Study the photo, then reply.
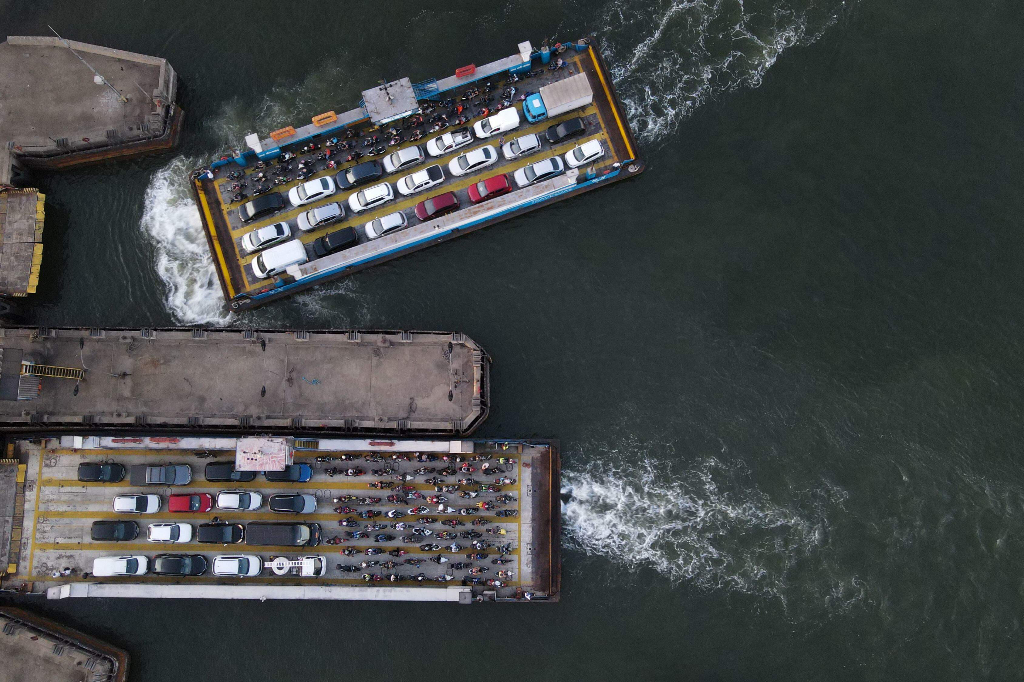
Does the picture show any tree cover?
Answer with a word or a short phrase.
No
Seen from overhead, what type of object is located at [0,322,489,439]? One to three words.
pier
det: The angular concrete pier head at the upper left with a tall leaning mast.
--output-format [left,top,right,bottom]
[0,31,191,193]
